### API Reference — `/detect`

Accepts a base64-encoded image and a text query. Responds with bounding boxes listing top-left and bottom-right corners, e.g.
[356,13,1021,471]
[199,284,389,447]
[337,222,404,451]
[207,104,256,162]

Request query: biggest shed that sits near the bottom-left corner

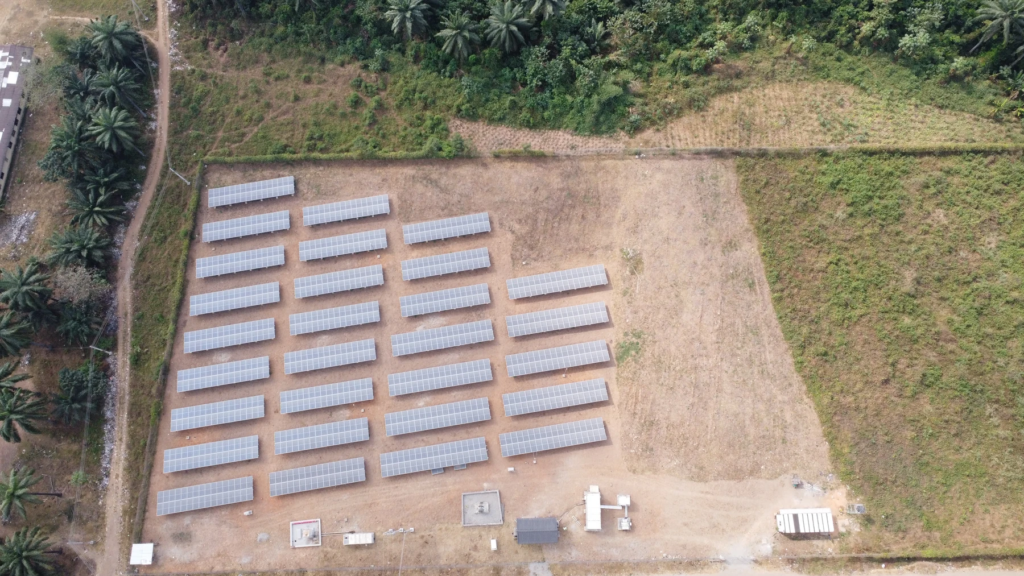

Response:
[130,541,159,567]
